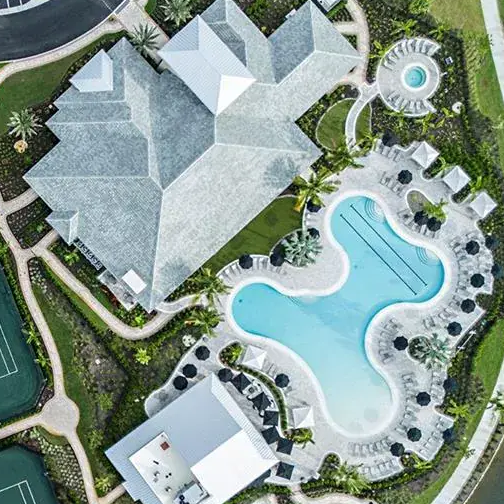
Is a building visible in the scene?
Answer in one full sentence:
Yes, the picture does show a building.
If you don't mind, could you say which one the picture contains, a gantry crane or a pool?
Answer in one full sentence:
I can see a pool in this picture.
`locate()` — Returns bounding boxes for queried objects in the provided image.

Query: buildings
[24,0,364,312]
[105,374,279,504]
